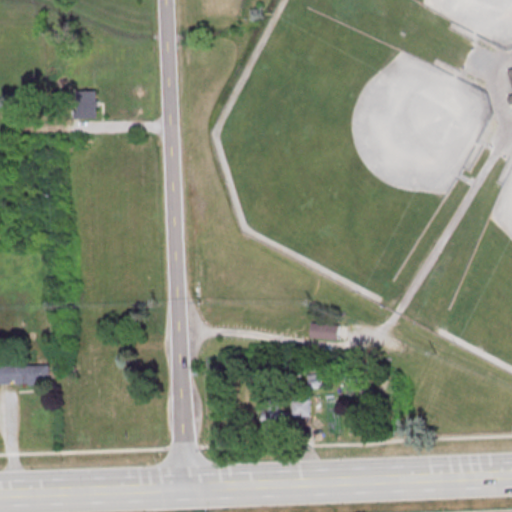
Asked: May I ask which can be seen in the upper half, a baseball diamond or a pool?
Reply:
baseball diamond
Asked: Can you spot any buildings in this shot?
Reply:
Yes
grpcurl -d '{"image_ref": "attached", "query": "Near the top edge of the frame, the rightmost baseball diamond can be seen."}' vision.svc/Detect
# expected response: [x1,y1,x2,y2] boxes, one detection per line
[414,0,512,48]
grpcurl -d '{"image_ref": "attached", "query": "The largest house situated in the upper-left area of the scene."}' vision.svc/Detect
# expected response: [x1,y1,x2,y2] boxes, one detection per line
[73,90,96,119]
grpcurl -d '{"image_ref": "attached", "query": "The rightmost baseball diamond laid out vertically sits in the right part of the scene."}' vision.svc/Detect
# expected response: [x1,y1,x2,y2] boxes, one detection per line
[435,159,512,375]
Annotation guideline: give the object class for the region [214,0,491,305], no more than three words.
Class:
baseball field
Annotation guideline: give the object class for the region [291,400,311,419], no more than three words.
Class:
house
